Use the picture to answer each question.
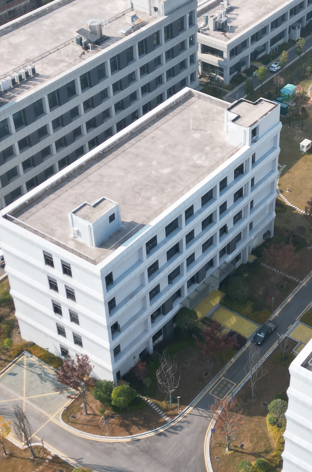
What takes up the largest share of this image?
buildings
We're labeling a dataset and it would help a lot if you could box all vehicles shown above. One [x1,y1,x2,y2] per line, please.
[0,251,8,270]
[268,62,287,74]
[252,317,281,346]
